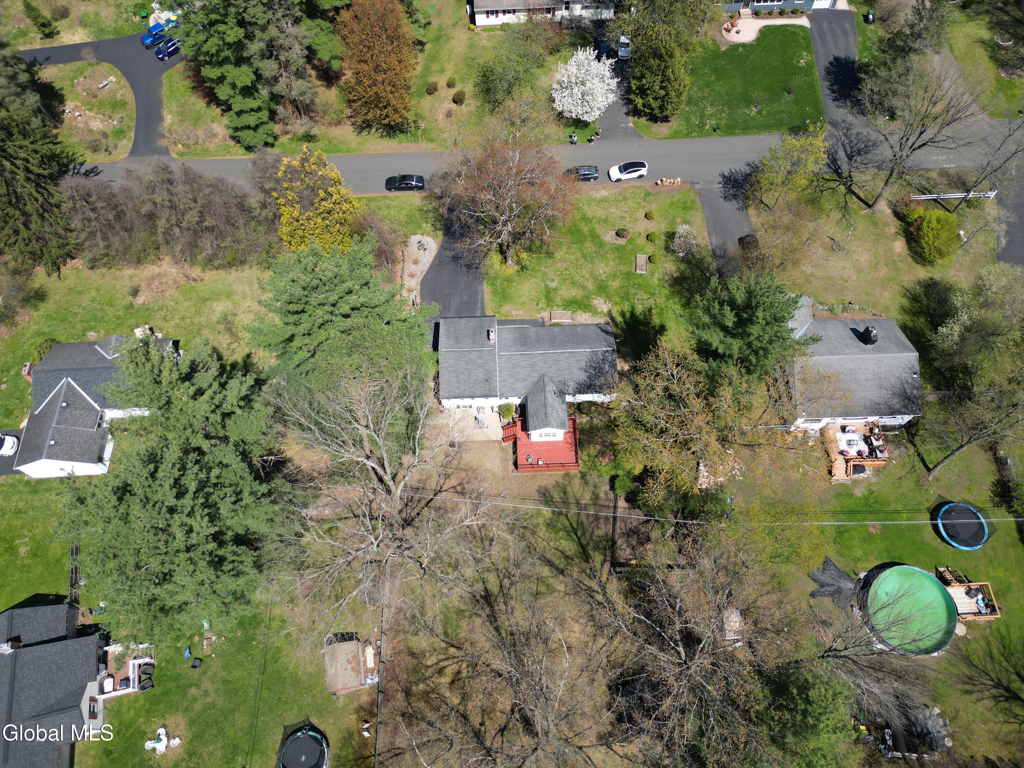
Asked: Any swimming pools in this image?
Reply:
Yes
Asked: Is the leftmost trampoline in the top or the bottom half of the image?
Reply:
bottom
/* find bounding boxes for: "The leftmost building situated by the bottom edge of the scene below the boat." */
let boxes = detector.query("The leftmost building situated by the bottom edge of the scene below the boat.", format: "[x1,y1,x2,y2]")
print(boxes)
[0,604,108,768]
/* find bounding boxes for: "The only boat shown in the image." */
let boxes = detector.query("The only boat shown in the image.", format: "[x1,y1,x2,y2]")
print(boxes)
[13,414,29,434]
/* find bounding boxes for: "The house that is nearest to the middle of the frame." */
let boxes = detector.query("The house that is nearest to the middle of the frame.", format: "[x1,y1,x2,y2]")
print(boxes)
[439,316,619,437]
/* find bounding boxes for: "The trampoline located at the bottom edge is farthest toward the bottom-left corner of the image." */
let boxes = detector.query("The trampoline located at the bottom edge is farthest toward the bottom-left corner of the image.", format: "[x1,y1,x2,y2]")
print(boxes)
[266,722,332,768]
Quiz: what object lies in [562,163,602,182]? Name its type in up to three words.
car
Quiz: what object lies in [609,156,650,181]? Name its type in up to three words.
car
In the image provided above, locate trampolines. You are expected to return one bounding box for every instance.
[933,493,1005,554]
[266,722,332,768]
